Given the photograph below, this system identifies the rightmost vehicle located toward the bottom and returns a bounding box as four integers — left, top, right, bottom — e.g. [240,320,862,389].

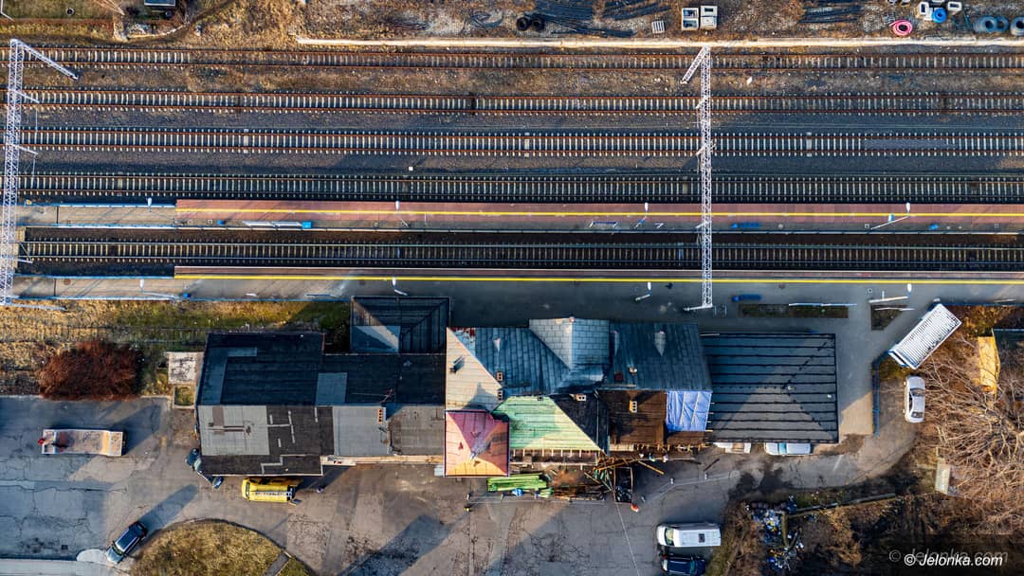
[903,375,928,421]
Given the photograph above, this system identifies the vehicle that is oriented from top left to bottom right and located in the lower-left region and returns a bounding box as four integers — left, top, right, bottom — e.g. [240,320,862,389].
[185,447,224,489]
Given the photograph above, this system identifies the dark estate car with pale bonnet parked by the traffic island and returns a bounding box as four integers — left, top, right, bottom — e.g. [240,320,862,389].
[102,523,146,564]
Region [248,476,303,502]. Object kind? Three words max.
vehicle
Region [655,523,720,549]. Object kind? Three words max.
vehicle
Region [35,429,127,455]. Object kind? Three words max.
trailer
